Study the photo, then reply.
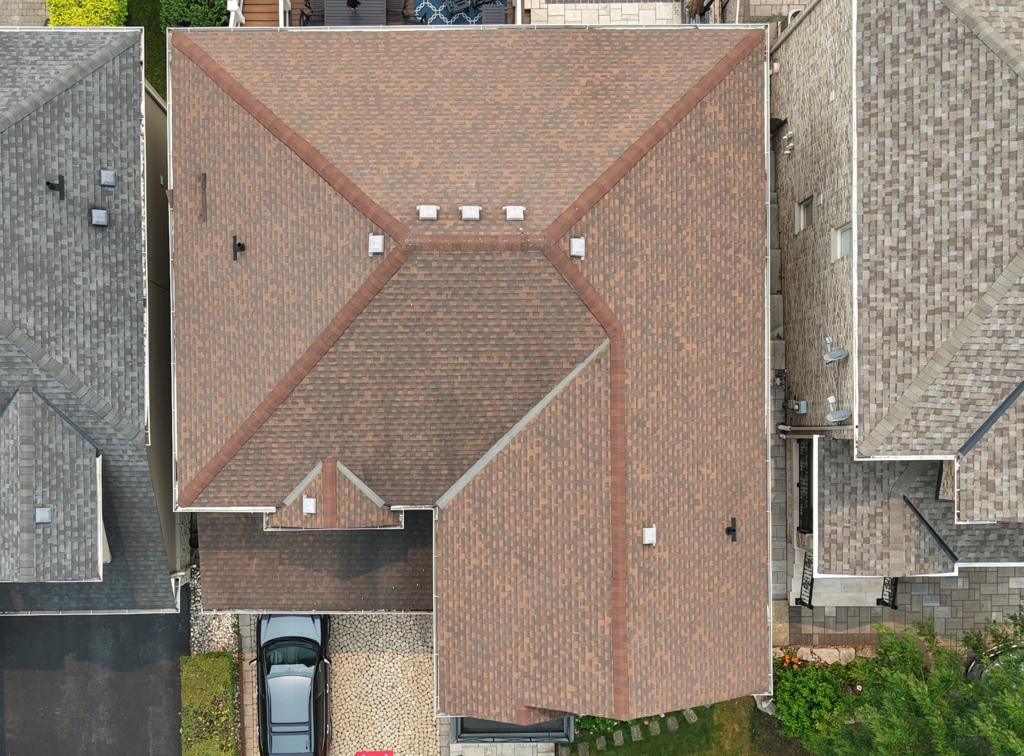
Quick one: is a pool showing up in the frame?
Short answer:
No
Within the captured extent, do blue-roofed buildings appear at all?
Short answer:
No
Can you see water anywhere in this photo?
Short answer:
No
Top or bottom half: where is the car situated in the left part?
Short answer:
bottom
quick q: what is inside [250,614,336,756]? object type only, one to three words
car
